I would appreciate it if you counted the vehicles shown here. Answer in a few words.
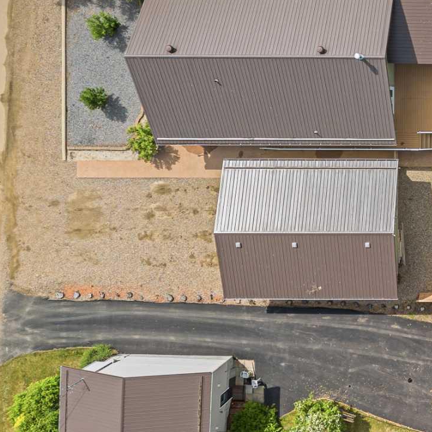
0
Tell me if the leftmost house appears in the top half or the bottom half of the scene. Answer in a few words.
bottom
